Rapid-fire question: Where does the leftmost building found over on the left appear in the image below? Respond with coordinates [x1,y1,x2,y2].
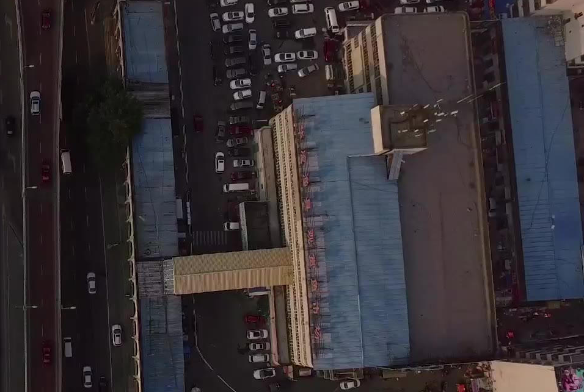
[115,0,186,392]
